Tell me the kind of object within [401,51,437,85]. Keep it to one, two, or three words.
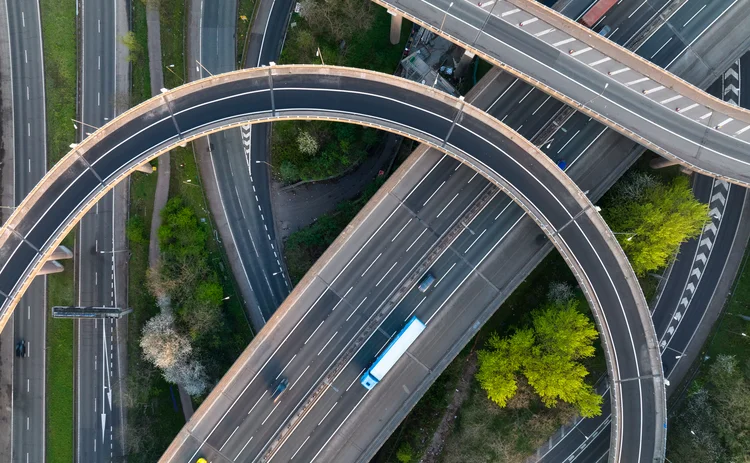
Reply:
building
